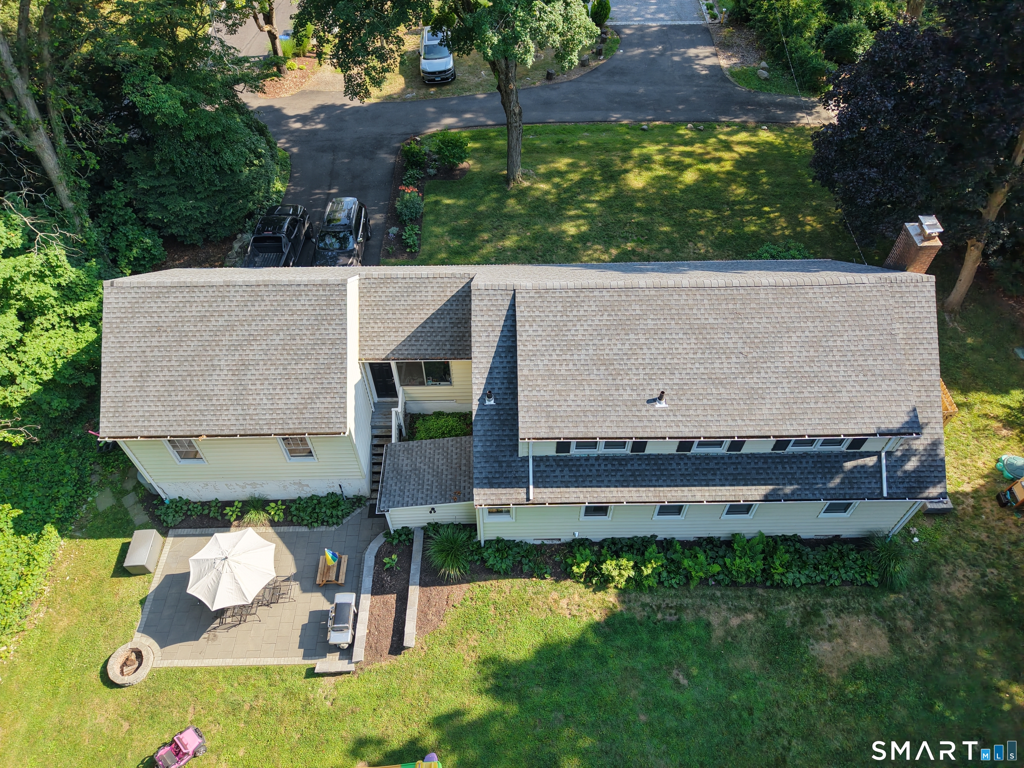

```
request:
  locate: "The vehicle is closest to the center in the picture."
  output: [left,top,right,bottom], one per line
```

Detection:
[313,196,374,265]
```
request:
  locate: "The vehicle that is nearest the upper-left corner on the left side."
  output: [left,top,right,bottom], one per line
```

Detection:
[243,209,315,266]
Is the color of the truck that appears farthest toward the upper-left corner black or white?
black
